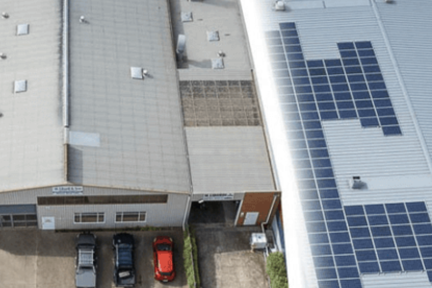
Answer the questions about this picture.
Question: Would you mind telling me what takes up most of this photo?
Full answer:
The scene is dominated by buildings.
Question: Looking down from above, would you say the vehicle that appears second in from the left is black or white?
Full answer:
The vehicle that appears second in from the left looks black in the image.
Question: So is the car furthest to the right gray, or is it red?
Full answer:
The car furthest to the right is red.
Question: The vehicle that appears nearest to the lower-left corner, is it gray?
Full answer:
Yes, the vehicle that appears nearest to the lower-left corner is gray.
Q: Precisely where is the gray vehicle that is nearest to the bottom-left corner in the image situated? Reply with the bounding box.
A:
[72,234,100,288]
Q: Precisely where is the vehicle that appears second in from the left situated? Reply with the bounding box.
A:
[111,233,138,288]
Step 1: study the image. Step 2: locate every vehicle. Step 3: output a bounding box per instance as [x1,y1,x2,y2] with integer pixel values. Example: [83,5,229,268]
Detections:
[72,234,100,288]
[152,236,177,283]
[111,233,138,288]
